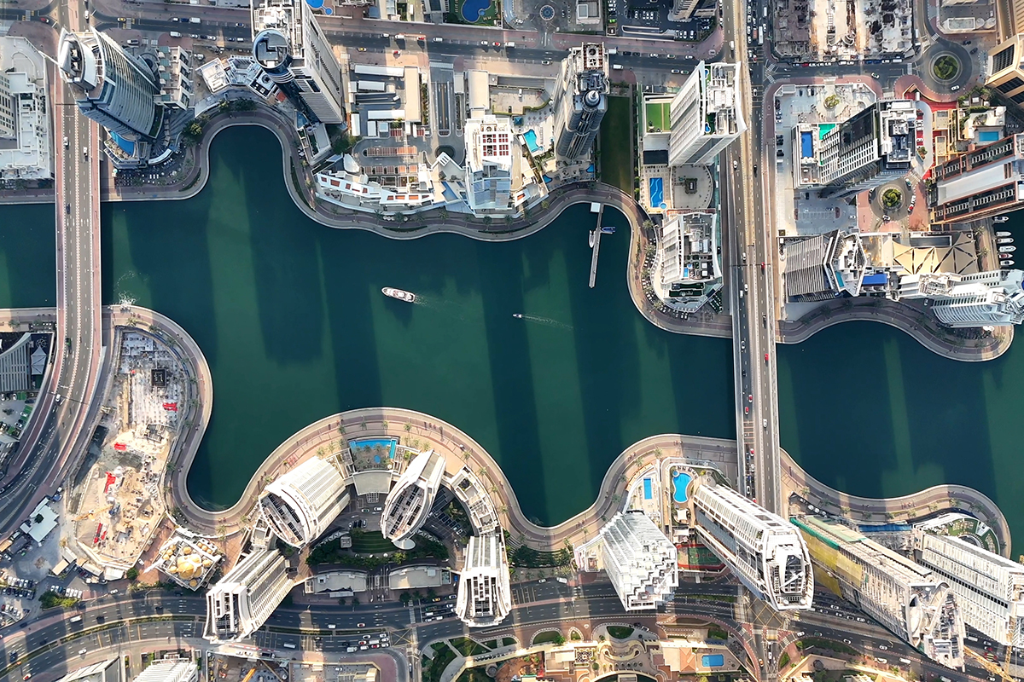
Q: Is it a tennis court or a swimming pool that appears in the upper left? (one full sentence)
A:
What appears in the upper left is a swimming pool.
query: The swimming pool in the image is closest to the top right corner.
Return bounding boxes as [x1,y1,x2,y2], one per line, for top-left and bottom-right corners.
[799,128,816,160]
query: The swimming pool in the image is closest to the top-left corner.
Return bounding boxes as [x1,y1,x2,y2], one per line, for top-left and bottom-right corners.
[108,127,137,155]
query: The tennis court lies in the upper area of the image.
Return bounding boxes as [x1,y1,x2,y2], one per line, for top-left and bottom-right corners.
[642,100,673,137]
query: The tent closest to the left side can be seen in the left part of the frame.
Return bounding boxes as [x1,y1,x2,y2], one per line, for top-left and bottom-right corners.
[32,346,50,374]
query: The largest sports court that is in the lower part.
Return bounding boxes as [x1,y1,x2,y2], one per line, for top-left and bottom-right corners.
[678,544,725,570]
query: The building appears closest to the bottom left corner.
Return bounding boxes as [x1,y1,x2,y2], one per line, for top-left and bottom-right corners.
[55,649,122,682]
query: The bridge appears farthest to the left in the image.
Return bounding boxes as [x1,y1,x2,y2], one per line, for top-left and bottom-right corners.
[0,59,104,542]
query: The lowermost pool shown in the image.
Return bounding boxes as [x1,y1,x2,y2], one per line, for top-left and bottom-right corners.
[702,654,724,668]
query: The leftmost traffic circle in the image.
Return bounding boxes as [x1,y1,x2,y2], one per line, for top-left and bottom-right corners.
[871,177,913,219]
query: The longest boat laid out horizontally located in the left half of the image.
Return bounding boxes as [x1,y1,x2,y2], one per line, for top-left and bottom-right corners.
[382,288,417,303]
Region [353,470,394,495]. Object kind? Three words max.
building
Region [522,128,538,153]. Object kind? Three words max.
swimming pool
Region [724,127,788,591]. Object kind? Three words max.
bridge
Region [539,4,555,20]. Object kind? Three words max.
fountain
